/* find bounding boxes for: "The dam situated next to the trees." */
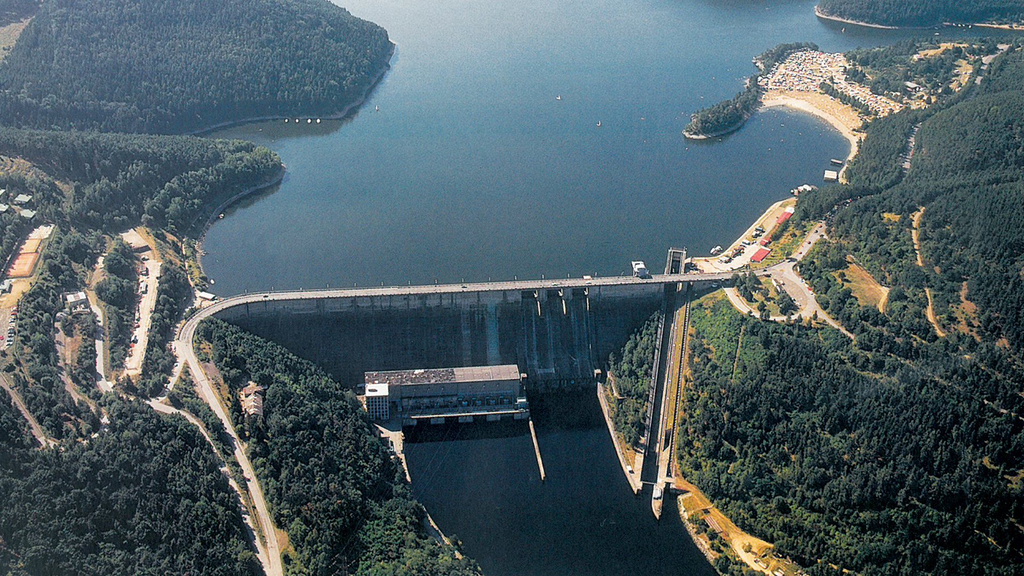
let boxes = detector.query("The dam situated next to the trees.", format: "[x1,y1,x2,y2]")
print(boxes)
[175,268,747,399]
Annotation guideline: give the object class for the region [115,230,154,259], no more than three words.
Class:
building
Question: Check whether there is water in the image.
Yes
